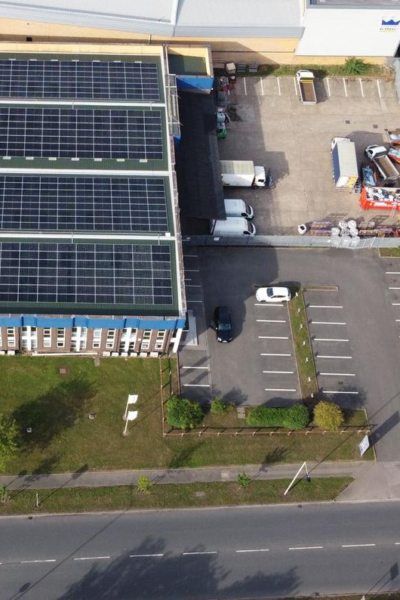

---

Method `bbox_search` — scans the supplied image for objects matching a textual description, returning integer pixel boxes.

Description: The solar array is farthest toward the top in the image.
[0,59,158,100]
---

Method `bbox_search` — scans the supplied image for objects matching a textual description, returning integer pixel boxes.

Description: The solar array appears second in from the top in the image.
[0,107,162,161]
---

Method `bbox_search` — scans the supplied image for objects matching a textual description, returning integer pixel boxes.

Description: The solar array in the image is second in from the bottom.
[0,175,168,231]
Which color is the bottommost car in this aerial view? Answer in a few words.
black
